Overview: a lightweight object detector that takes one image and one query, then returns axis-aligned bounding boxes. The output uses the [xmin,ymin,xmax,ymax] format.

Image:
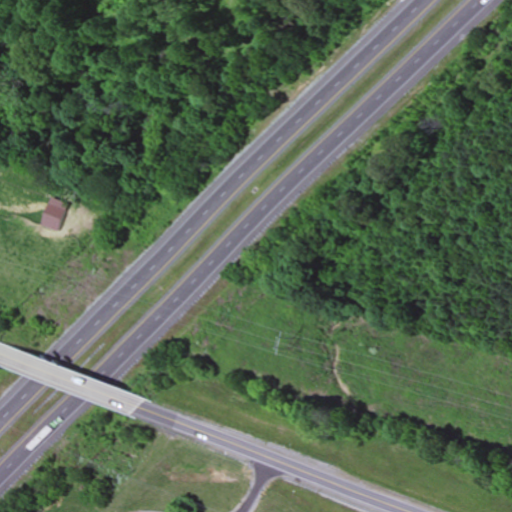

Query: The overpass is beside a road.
[0,342,156,418]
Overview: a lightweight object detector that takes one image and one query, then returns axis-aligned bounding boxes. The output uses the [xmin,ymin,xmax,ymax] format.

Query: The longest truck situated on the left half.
[26,420,58,452]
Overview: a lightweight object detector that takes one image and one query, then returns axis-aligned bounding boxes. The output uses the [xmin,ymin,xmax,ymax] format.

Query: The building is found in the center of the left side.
[39,196,68,232]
